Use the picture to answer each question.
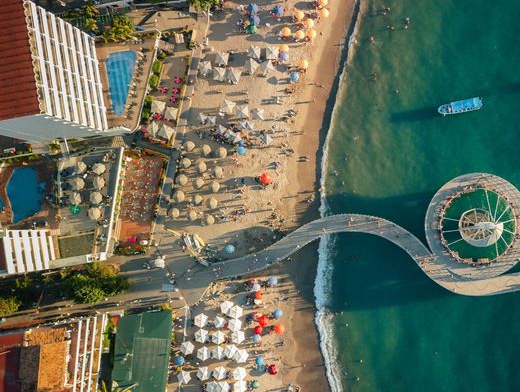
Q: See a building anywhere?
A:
Yes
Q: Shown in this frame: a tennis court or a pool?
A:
pool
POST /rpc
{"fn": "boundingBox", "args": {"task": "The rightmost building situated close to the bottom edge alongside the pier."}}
[111,310,176,392]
